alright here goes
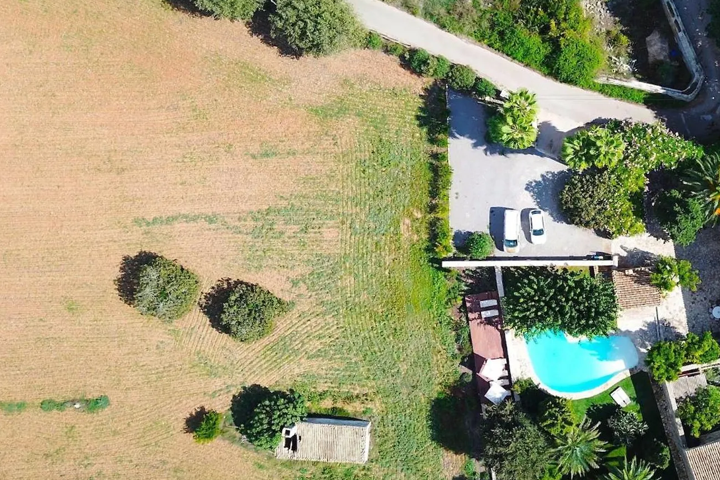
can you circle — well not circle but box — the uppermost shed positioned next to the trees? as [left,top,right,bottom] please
[612,269,662,309]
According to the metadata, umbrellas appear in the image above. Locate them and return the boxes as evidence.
[478,354,508,383]
[485,381,508,405]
